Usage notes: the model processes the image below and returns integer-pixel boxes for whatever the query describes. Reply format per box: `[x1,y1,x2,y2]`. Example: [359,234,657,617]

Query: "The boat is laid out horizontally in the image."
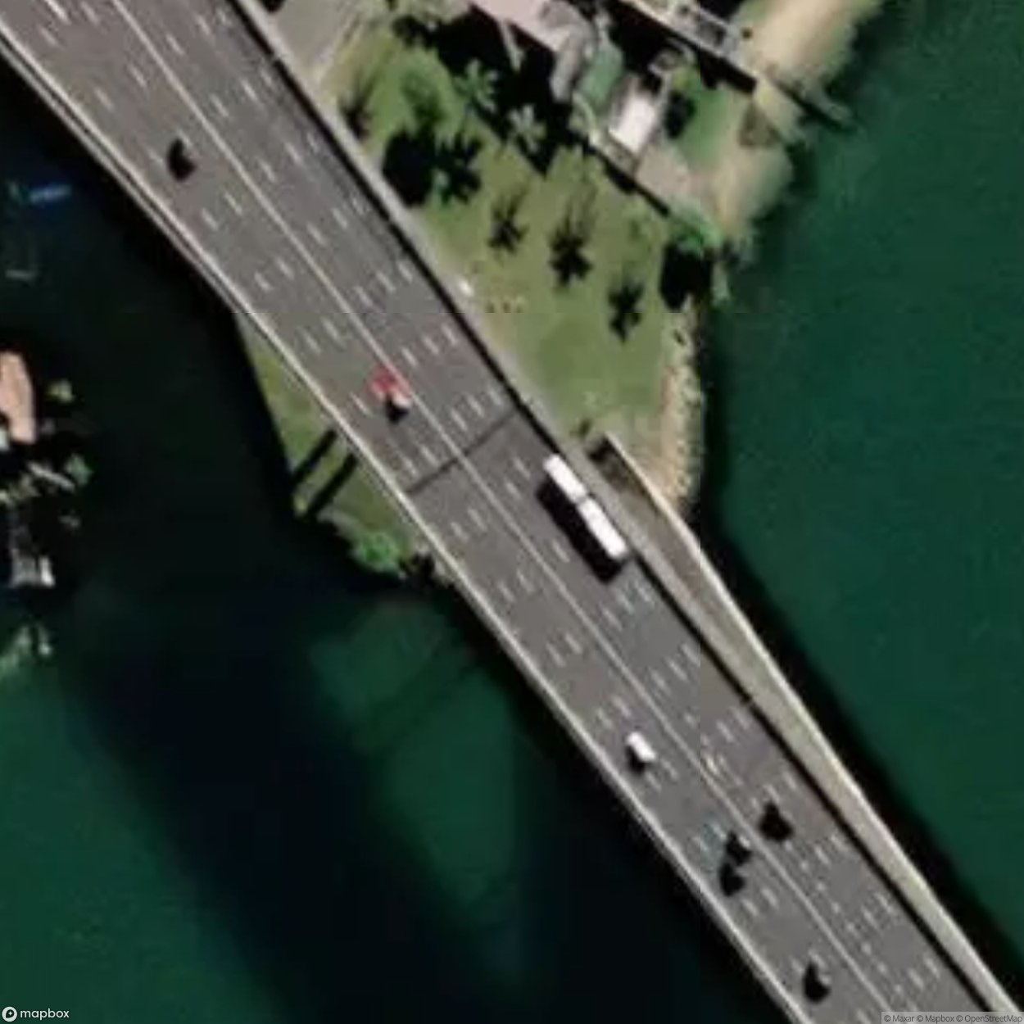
[28,185,70,203]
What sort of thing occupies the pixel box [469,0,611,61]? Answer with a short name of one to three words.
house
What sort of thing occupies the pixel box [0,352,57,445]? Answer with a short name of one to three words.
house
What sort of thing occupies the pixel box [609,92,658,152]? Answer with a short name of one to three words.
building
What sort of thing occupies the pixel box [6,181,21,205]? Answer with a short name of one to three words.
boat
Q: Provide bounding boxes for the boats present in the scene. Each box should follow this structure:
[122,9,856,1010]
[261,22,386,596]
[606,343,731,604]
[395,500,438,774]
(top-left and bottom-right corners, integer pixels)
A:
[6,181,21,205]
[28,185,70,203]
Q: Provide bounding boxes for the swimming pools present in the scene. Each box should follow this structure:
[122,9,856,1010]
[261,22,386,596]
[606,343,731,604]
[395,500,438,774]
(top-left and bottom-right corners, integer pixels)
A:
[584,39,630,110]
